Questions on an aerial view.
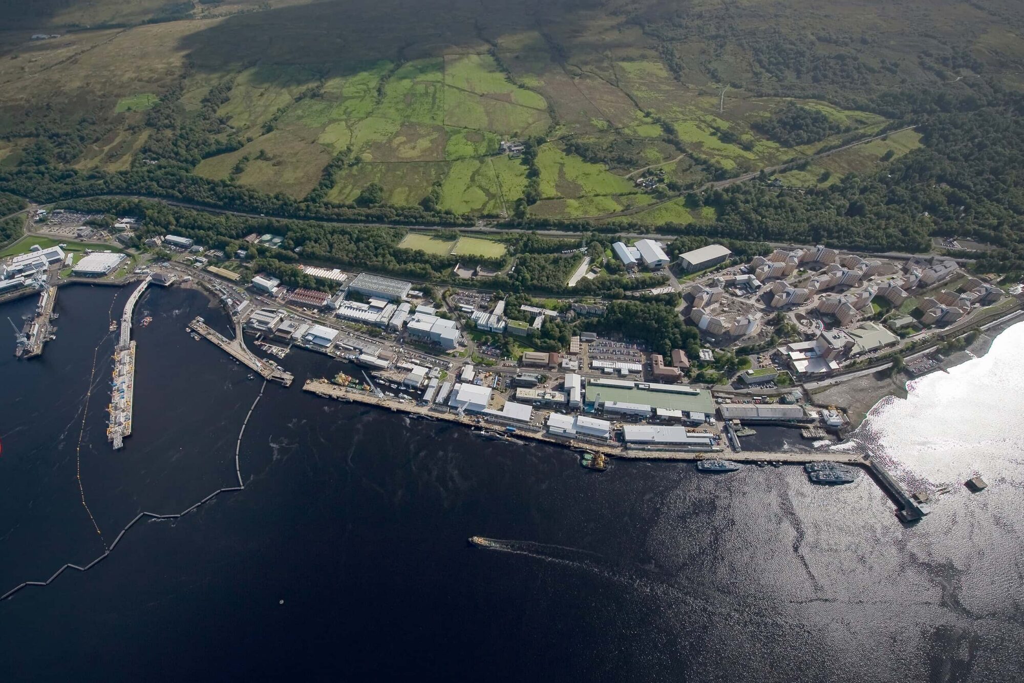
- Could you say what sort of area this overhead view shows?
port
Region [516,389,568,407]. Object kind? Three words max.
building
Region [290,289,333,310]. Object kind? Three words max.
building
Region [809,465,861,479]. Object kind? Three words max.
ship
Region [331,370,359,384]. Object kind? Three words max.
ship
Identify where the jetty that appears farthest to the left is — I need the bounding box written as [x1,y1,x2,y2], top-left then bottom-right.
[24,286,58,359]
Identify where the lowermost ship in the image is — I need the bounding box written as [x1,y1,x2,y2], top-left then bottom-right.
[468,533,491,546]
